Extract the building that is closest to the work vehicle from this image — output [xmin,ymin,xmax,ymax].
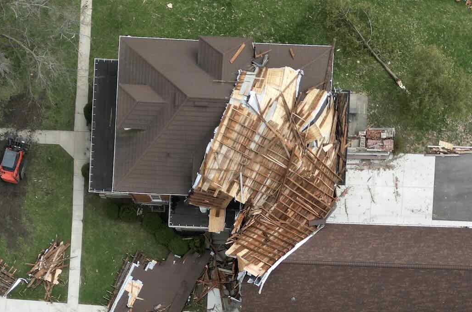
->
[88,34,351,248]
